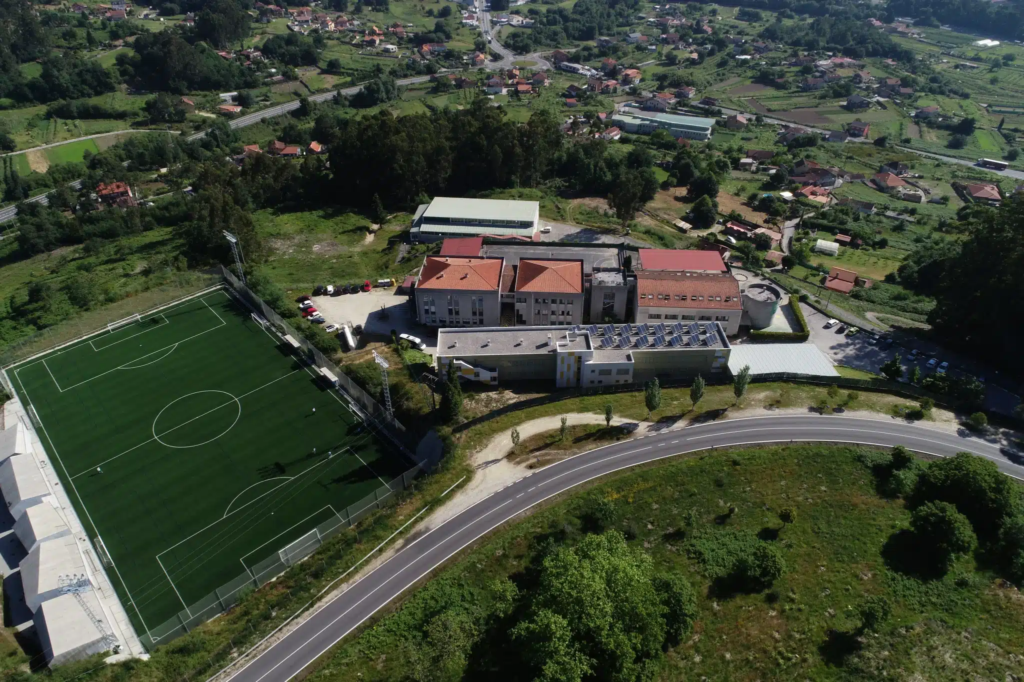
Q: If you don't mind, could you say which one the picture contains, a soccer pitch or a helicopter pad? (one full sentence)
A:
I can see a soccer pitch in this picture.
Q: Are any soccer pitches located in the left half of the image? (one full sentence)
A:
Yes, I can see a soccer pitch in the left half of the image.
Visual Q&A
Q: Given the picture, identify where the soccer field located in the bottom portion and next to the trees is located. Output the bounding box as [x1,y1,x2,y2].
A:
[3,282,435,660]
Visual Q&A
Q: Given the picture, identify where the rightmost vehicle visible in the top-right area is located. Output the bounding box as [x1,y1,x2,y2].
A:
[979,154,1013,170]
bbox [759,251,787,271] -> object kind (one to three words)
house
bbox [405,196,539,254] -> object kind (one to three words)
building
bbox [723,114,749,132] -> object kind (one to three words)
house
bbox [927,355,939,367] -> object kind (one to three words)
vehicle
